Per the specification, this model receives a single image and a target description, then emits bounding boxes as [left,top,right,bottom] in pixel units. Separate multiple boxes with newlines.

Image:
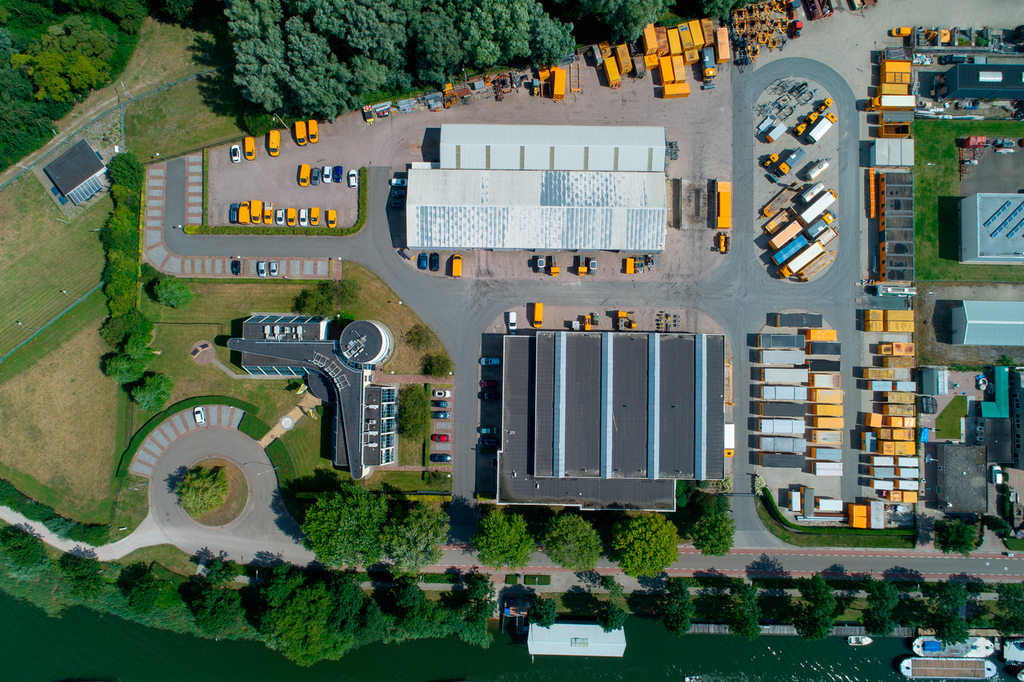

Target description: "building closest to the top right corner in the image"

[941,61,1024,99]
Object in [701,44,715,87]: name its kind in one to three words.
vehicle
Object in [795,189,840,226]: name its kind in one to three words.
trailer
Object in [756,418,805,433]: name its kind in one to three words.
building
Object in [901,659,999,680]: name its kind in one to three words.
ship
